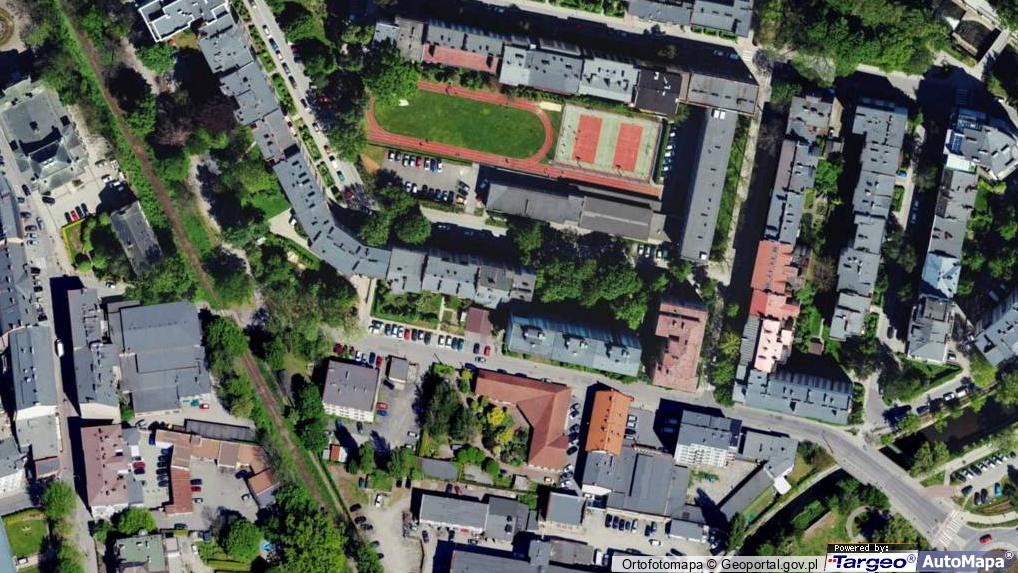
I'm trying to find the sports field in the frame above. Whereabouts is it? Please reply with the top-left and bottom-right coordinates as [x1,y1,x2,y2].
[375,91,544,160]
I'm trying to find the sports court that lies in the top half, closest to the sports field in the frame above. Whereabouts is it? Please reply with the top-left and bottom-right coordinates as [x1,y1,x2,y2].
[556,102,663,183]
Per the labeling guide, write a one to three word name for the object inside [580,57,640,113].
house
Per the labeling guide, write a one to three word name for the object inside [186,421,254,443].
shed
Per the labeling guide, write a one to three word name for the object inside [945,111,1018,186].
house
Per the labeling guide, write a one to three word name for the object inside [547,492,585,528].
building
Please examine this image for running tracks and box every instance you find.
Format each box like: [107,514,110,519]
[367,82,662,195]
